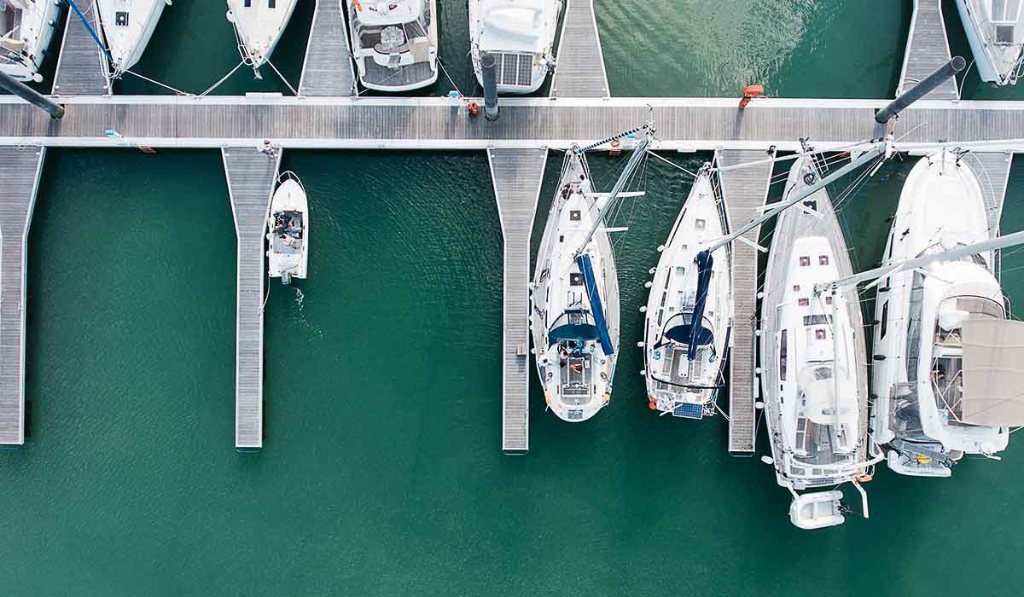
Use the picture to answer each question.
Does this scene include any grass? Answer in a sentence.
No, grass can't be seen anywhere here.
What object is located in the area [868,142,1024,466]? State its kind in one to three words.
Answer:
boat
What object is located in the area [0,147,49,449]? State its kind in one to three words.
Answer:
pier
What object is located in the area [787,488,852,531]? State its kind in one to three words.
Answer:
boat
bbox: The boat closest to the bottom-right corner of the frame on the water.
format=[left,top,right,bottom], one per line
[884,440,954,480]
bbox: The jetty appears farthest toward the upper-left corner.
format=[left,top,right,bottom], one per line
[52,0,114,96]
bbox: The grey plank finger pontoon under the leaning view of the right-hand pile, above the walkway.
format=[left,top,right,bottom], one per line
[893,0,958,101]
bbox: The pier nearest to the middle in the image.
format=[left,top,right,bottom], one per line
[489,150,546,455]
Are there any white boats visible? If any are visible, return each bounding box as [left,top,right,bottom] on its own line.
[269,170,310,282]
[224,0,298,80]
[755,137,1024,518]
[468,0,561,96]
[349,0,443,94]
[868,142,1024,466]
[949,0,1024,92]
[69,0,162,79]
[644,117,937,419]
[787,488,852,531]
[531,97,663,422]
